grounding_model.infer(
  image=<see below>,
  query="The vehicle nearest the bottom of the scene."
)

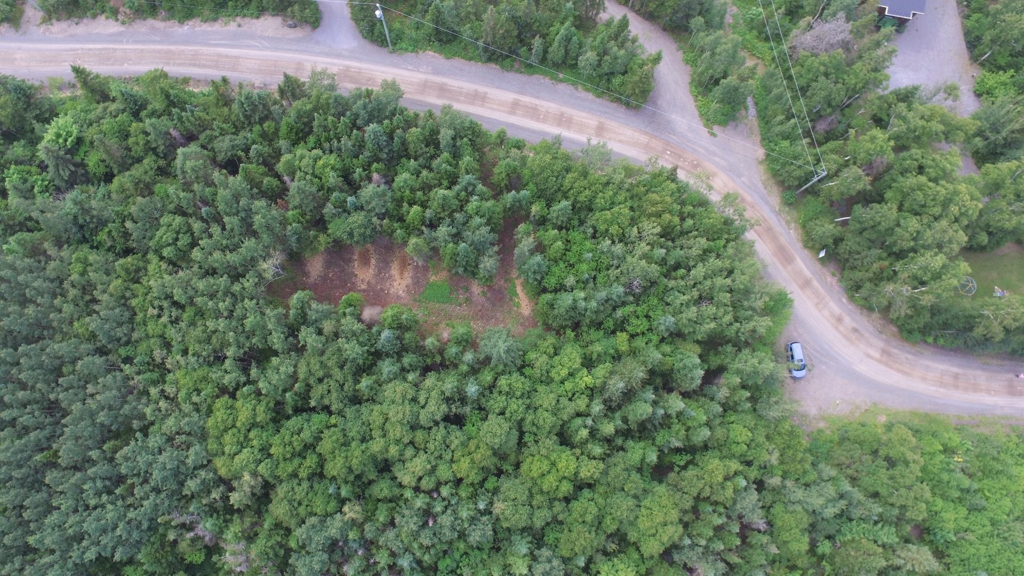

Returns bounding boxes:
[785,343,808,381]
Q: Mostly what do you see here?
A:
trees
